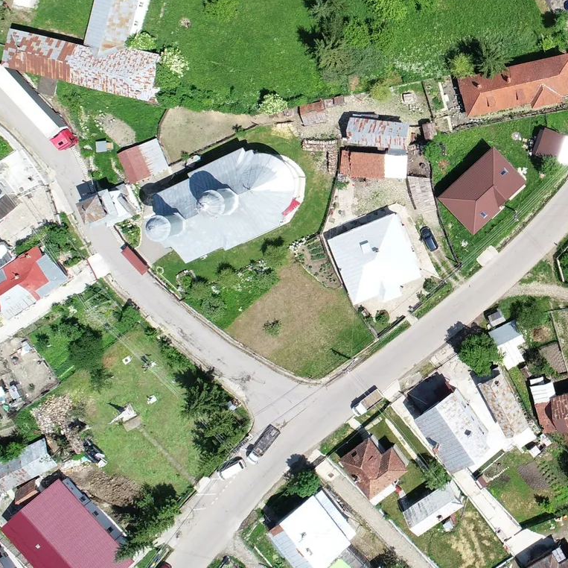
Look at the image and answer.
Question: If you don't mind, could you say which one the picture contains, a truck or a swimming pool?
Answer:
truck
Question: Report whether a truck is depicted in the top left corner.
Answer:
Yes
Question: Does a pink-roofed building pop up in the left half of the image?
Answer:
Yes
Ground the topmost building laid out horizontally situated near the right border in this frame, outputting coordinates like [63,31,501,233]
[457,55,568,118]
